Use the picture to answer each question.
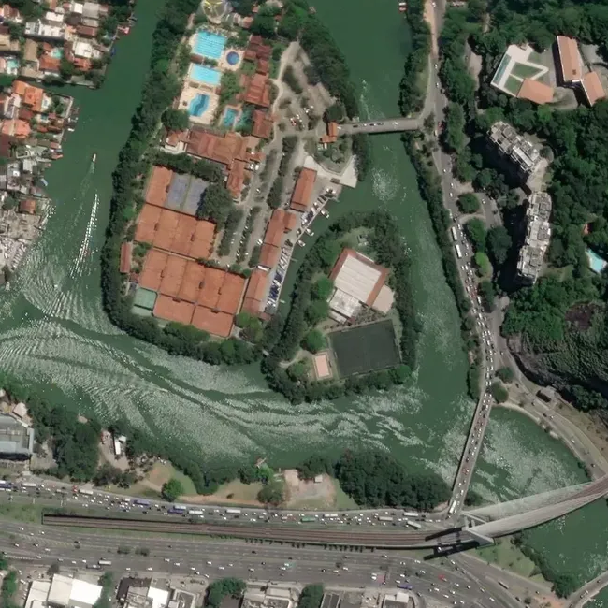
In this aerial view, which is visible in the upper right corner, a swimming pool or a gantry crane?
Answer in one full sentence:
There is a swimming pool in the upper right corner.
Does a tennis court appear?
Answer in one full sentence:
Yes, the photo shows a tennis court.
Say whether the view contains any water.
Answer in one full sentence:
Yes, there's water in this view.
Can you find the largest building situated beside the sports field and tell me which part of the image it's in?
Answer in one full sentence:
The largest building situated beside the sports field sits in the center section of the image.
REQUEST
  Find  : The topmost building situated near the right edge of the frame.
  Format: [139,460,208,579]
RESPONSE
[557,35,583,83]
